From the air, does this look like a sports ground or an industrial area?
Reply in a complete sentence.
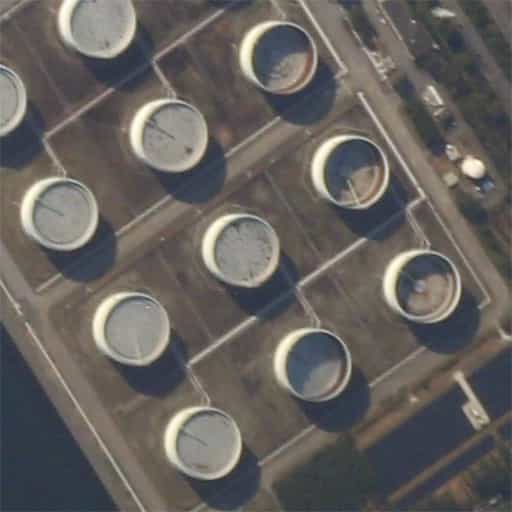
The area seen from above is an industrial area.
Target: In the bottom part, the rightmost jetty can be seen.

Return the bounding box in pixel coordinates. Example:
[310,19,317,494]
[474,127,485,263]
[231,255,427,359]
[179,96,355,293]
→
[455,371,490,429]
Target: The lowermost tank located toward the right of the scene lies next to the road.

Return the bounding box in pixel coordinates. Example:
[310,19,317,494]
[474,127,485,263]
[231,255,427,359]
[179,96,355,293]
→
[266,320,350,407]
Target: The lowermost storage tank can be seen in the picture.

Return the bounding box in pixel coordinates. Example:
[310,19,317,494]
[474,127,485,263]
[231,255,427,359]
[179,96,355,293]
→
[157,396,242,484]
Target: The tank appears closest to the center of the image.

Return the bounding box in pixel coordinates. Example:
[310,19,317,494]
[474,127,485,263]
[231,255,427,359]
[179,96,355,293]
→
[194,205,278,293]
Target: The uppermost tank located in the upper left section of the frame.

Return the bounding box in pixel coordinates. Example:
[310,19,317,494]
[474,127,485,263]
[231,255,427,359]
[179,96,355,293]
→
[50,0,136,64]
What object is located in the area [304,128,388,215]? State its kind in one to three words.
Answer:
storage tank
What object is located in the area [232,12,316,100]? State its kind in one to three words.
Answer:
storage tank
